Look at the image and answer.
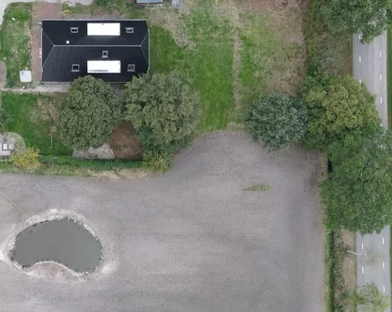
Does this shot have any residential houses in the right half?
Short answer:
No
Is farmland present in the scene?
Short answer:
Yes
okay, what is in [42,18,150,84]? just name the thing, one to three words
house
